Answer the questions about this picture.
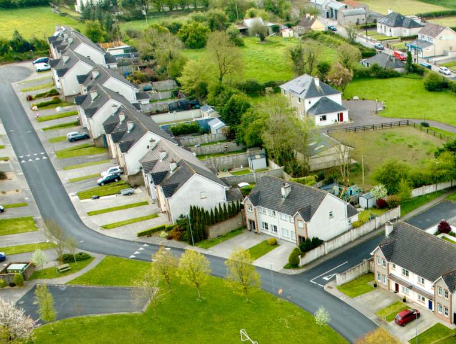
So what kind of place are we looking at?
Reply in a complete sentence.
This image shows a residential area.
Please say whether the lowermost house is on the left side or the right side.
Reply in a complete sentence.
The lowermost house sits on the right side.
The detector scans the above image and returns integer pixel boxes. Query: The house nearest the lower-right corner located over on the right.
[370,211,456,319]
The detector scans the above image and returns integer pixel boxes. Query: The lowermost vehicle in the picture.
[393,308,423,324]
